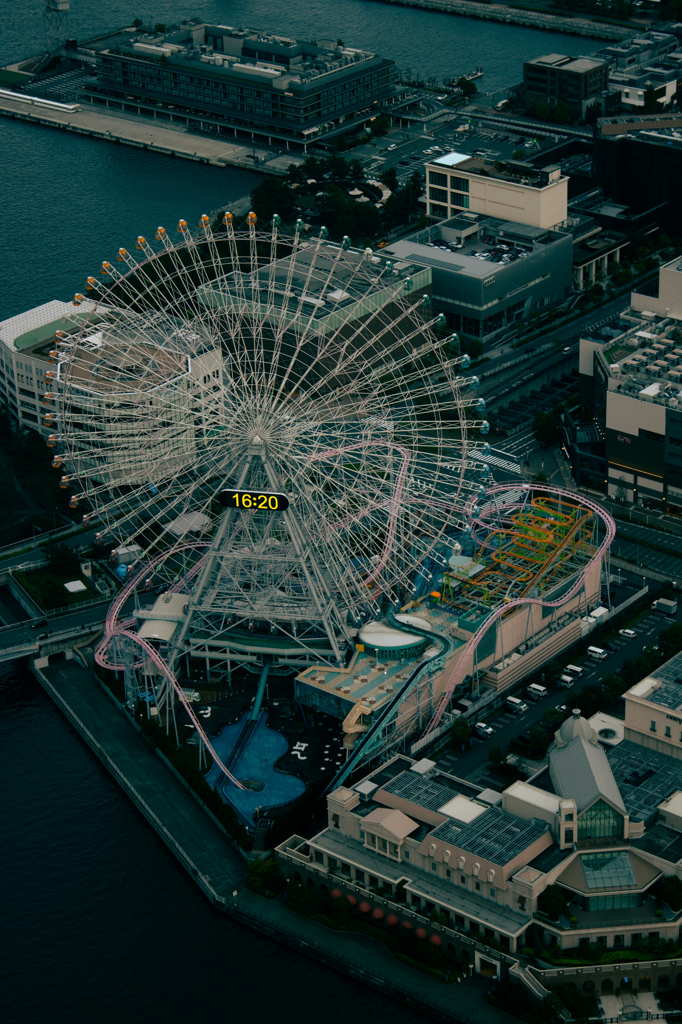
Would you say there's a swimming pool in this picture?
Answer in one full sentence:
Yes, the frame does contain a swimming pool.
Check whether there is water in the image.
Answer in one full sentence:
Yes, there is water in the image.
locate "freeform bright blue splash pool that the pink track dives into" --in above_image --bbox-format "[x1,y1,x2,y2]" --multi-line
[205,711,308,822]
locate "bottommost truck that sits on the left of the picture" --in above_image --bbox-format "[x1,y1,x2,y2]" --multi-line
[178,684,202,706]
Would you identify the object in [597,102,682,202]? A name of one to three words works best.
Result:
building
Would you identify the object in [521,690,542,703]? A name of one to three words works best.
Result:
vehicle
